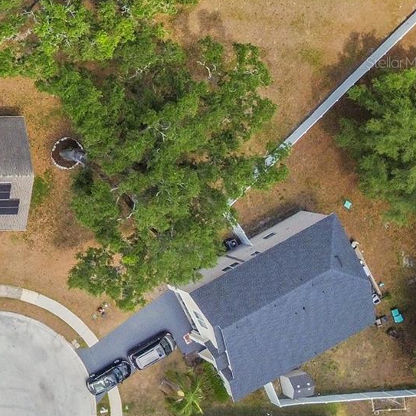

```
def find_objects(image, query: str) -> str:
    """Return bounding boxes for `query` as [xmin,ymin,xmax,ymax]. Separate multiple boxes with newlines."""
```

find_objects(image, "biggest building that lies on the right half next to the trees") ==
[174,212,376,403]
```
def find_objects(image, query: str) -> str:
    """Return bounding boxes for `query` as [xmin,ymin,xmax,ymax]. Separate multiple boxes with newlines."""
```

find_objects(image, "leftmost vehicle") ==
[83,360,132,396]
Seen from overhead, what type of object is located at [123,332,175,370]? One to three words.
car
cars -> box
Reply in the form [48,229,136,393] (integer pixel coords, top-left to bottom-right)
[123,332,175,370]
[83,360,132,396]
